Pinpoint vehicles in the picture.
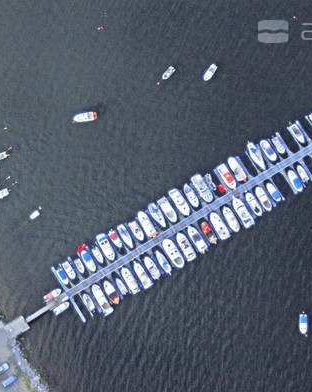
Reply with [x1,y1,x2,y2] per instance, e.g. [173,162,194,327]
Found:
[0,362,11,374]
[3,374,19,386]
